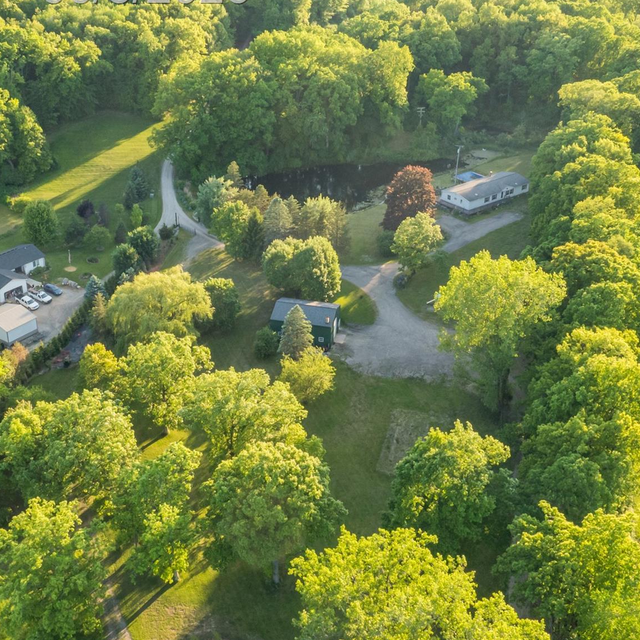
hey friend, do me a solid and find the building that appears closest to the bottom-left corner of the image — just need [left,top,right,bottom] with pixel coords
[0,299,39,345]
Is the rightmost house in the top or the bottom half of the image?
top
